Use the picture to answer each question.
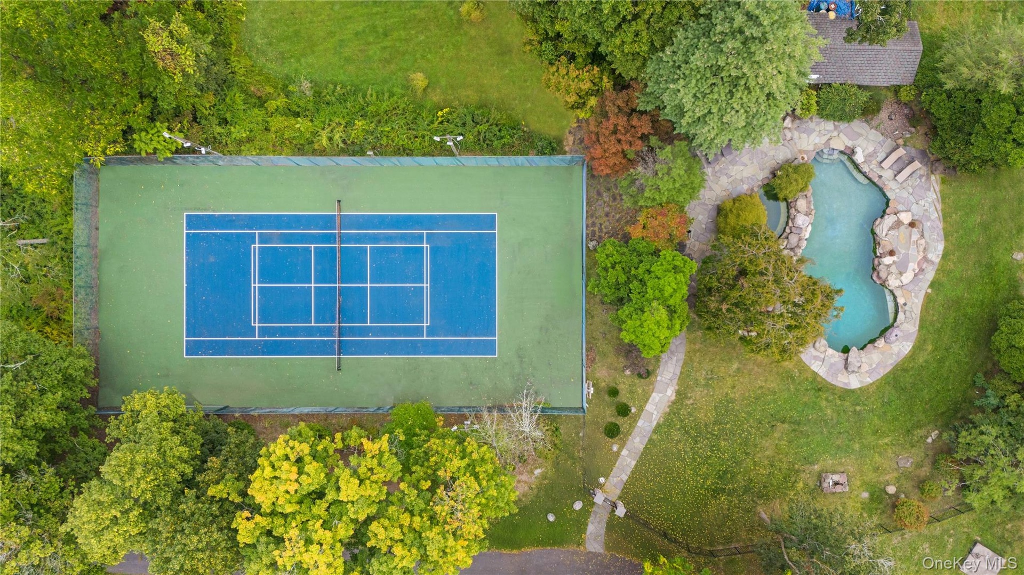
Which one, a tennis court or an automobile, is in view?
tennis court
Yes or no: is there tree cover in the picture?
Yes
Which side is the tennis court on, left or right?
left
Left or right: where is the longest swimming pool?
right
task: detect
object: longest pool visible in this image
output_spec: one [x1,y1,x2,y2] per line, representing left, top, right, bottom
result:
[802,143,907,361]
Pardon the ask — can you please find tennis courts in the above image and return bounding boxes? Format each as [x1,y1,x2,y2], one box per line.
[98,165,583,408]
